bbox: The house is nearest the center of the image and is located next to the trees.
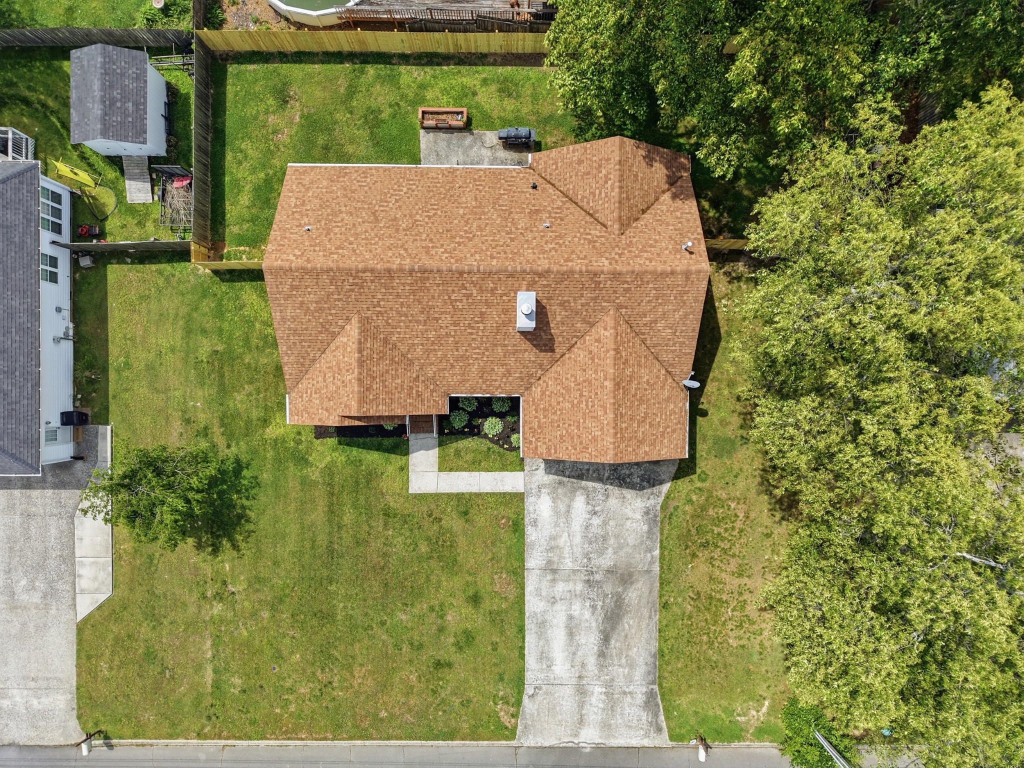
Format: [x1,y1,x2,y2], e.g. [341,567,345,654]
[264,137,710,464]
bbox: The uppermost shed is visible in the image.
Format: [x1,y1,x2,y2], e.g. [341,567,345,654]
[69,42,167,155]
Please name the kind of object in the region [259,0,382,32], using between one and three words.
swimming pool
